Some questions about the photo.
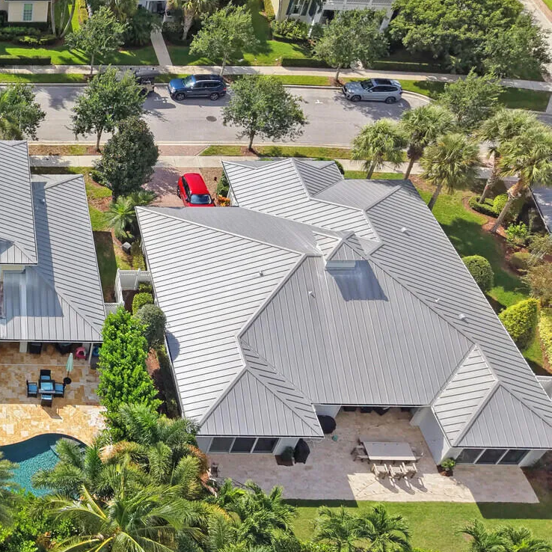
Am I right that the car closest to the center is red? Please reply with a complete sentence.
Yes, the car closest to the center is indeed red.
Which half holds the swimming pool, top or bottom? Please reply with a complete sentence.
It is in the bottom half that the swimming pool appears.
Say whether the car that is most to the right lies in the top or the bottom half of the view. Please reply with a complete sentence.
The car that is most to the right sits in the top half of the picture.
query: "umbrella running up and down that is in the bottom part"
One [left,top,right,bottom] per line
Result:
[61,354,74,385]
